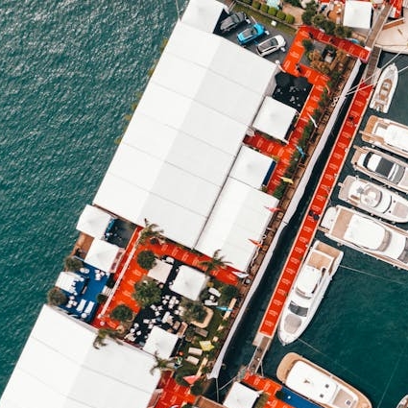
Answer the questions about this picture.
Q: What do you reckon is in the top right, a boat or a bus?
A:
boat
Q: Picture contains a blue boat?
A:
No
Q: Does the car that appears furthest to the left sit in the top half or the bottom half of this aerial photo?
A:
top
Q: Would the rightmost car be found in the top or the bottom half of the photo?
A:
top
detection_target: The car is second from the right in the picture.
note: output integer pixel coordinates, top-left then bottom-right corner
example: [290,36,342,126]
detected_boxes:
[235,21,265,45]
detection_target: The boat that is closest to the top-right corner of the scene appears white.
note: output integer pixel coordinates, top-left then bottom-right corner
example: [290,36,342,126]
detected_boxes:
[372,64,398,117]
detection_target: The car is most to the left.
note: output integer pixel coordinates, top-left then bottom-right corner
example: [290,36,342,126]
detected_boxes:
[220,11,246,33]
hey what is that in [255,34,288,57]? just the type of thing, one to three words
car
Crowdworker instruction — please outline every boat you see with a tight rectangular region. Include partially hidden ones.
[353,146,408,192]
[338,180,408,223]
[264,356,391,408]
[355,119,408,157]
[372,64,398,117]
[280,241,392,344]
[321,212,408,269]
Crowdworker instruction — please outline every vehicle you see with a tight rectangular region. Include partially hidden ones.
[255,34,288,57]
[220,11,246,33]
[235,21,265,45]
